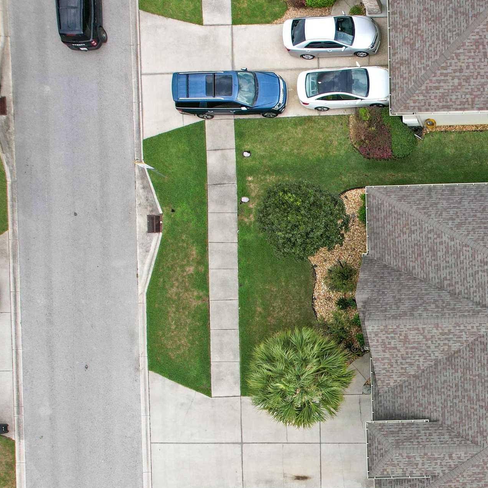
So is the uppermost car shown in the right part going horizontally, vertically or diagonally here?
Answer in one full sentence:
The uppermost car shown in the right part is oriented horizontally.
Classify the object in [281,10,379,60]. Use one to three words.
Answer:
car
